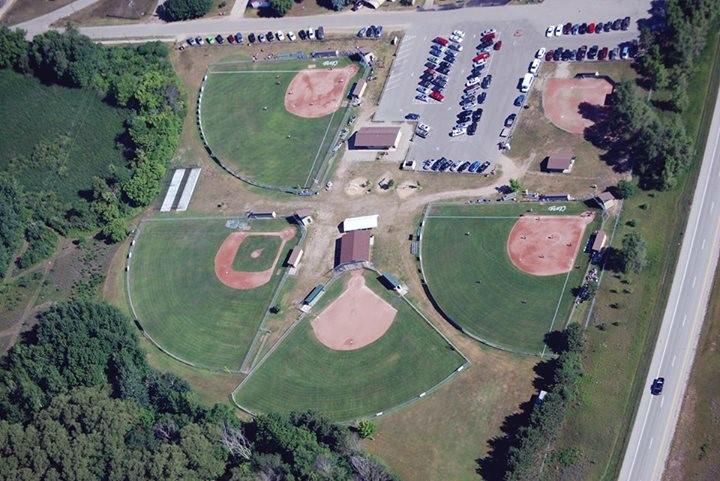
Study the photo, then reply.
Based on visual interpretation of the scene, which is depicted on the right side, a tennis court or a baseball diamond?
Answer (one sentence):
It is a baseball diamond that can be seen on the right side.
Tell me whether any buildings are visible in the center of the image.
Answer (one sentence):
Yes, a building shows up in the center of the image.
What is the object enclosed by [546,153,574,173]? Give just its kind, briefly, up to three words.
building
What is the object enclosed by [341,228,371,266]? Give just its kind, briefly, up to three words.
building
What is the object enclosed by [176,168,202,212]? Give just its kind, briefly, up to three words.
shed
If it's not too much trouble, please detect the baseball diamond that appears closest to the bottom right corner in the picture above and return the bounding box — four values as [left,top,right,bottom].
[420,203,605,356]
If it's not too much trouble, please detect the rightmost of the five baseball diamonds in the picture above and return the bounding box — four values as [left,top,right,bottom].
[541,77,615,134]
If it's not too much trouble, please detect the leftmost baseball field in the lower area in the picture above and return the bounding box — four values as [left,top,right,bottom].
[127,217,306,372]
